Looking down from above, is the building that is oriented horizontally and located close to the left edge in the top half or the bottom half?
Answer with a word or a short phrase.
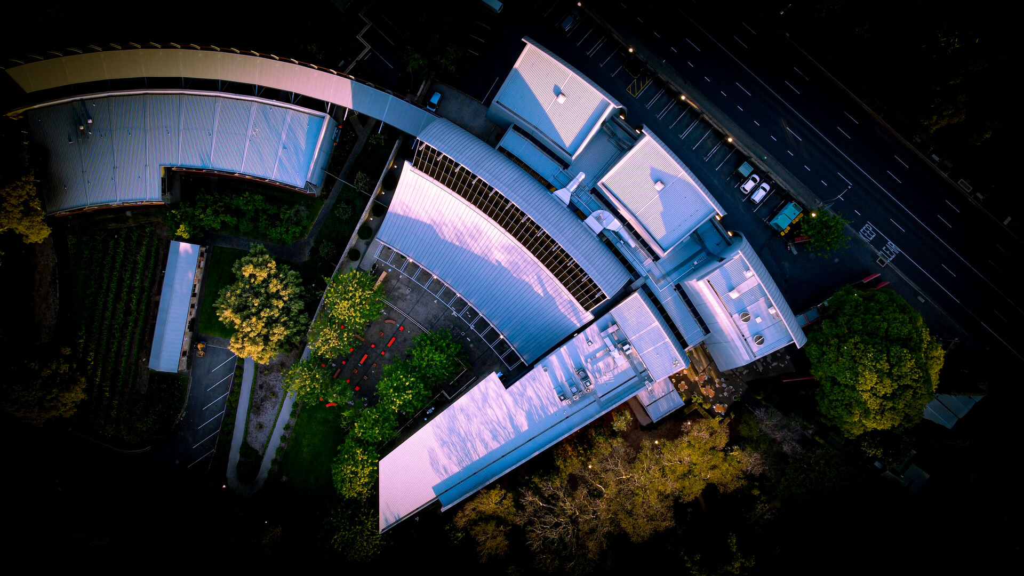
top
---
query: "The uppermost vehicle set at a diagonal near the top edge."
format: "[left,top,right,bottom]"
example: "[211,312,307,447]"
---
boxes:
[560,9,579,30]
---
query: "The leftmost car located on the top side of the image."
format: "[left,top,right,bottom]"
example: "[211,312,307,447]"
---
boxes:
[428,90,441,111]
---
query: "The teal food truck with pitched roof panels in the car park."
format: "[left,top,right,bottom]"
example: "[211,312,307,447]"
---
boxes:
[773,203,803,232]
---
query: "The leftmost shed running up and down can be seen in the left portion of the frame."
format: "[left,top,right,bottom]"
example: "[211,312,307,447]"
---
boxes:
[149,240,216,373]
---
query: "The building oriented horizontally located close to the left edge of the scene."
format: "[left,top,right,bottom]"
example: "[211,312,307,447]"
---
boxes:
[20,88,342,218]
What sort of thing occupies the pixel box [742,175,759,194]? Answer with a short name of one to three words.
car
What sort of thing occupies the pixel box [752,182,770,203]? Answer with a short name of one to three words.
car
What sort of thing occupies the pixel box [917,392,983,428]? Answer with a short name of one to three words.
shed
